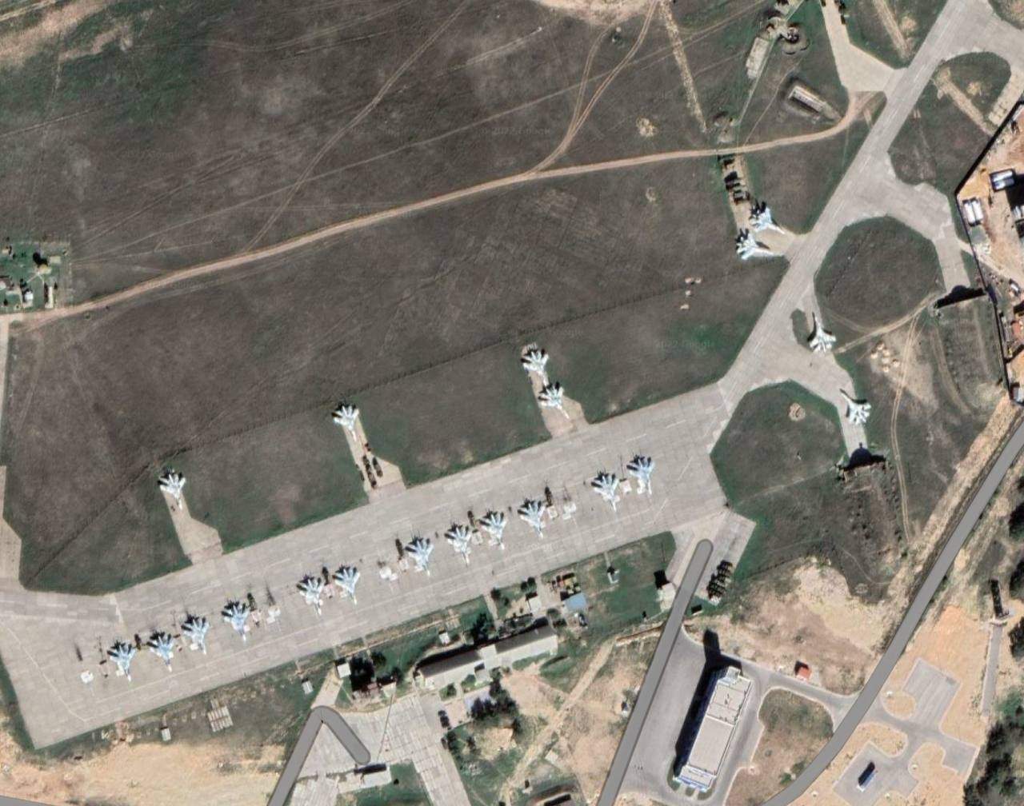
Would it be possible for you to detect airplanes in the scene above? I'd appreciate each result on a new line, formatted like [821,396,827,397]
[446,524,471,564]
[334,402,359,441]
[523,346,547,386]
[840,390,872,425]
[594,472,619,511]
[521,499,546,537]
[408,536,433,577]
[149,631,175,670]
[335,565,360,604]
[224,601,249,640]
[299,576,324,614]
[109,641,135,682]
[812,318,836,356]
[630,455,655,494]
[740,234,776,259]
[160,469,185,510]
[750,207,784,233]
[483,510,507,549]
[541,382,569,418]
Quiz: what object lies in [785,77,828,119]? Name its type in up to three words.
building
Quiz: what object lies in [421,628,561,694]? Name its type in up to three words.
building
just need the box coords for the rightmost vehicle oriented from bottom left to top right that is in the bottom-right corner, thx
[859,768,875,786]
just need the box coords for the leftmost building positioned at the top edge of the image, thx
[747,38,769,77]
